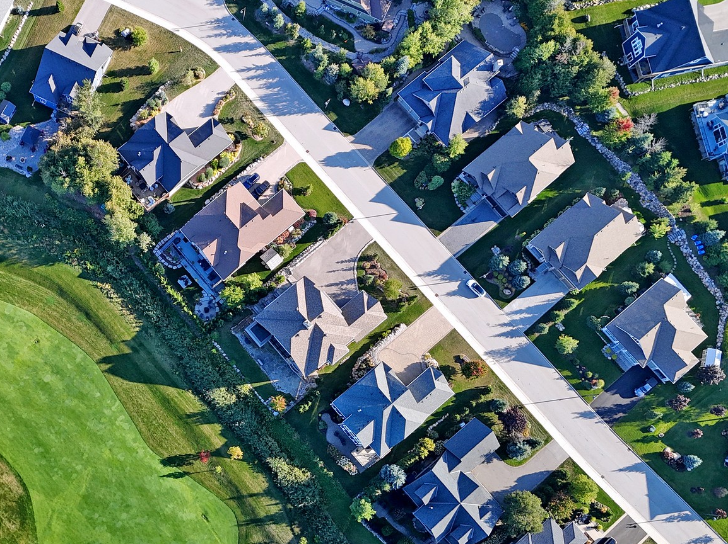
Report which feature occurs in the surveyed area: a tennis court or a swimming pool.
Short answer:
swimming pool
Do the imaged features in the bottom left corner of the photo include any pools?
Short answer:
No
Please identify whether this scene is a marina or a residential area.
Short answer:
residential area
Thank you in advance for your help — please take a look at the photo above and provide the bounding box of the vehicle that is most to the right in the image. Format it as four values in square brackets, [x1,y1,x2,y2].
[632,375,661,399]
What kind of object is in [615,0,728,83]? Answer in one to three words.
house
